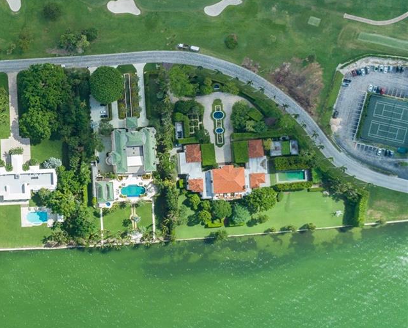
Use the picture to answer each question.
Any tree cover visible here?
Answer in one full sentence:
Yes, there is tree cover in the image.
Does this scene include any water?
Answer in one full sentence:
Yes, there is water in the image.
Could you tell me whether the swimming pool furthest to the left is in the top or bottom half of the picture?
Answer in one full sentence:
The swimming pool furthest to the left is in the bottom half of the image.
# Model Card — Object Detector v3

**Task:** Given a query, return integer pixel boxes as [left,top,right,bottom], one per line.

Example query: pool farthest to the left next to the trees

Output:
[21,207,55,227]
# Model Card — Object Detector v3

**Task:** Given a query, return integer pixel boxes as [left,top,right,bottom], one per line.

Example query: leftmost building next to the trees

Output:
[0,155,57,205]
